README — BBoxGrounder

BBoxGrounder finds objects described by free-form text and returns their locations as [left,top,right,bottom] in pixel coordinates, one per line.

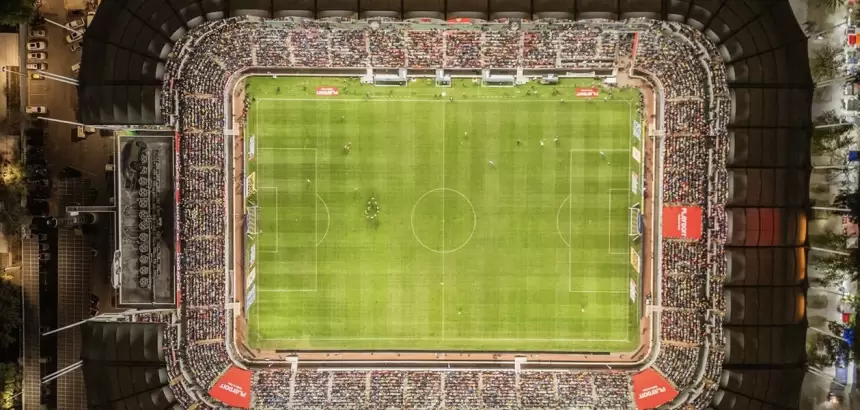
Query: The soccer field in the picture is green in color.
[245,76,643,351]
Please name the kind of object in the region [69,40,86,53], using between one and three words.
vehicle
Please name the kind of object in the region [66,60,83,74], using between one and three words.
vehicle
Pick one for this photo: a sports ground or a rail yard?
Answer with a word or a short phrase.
sports ground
